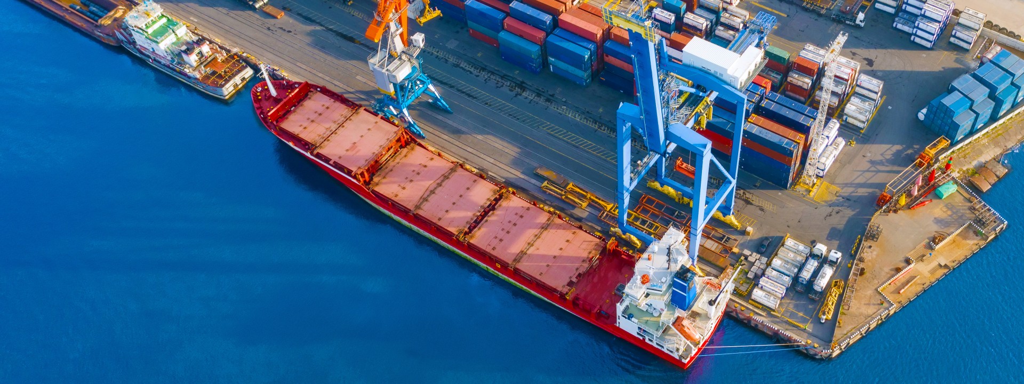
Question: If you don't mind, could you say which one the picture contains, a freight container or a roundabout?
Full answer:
I can see a freight container in this picture.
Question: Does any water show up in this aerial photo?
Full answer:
Yes, the picture does contain water.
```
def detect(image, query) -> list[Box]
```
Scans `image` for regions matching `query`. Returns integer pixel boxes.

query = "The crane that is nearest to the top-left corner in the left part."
[346,0,456,140]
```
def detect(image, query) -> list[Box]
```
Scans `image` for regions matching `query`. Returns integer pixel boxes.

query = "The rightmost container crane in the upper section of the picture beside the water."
[589,0,790,274]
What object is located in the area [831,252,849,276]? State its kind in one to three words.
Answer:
vehicle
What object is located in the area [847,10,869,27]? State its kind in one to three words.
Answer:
vehicle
